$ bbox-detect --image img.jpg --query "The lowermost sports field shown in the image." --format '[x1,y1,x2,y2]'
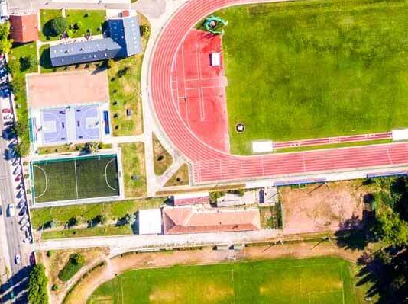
[87,258,357,304]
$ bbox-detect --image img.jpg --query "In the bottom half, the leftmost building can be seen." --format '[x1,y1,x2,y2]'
[140,206,162,235]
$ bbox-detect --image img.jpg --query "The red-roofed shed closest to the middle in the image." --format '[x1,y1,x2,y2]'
[174,193,210,206]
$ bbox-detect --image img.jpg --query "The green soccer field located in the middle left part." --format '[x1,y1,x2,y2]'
[32,155,120,205]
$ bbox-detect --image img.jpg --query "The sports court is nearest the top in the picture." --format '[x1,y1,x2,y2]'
[26,69,109,107]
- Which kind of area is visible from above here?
sports ground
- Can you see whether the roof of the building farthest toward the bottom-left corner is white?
Yes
